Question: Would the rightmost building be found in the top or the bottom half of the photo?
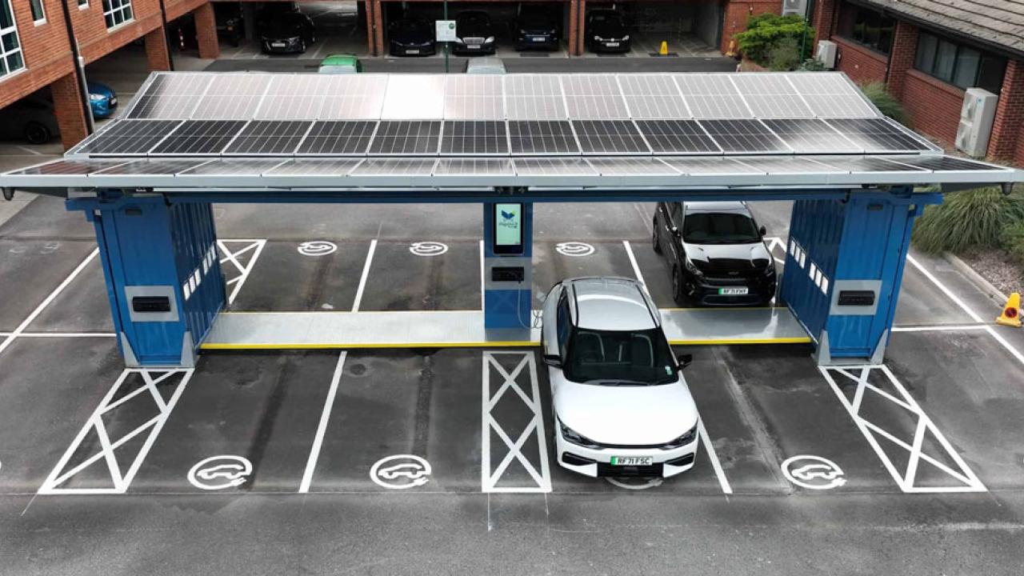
top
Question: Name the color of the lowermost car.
white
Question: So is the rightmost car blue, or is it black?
black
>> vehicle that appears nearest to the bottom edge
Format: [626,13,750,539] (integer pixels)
[537,277,700,480]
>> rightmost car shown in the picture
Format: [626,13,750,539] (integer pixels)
[659,200,784,305]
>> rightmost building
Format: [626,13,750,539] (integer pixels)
[830,0,1024,170]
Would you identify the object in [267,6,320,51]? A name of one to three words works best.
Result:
car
